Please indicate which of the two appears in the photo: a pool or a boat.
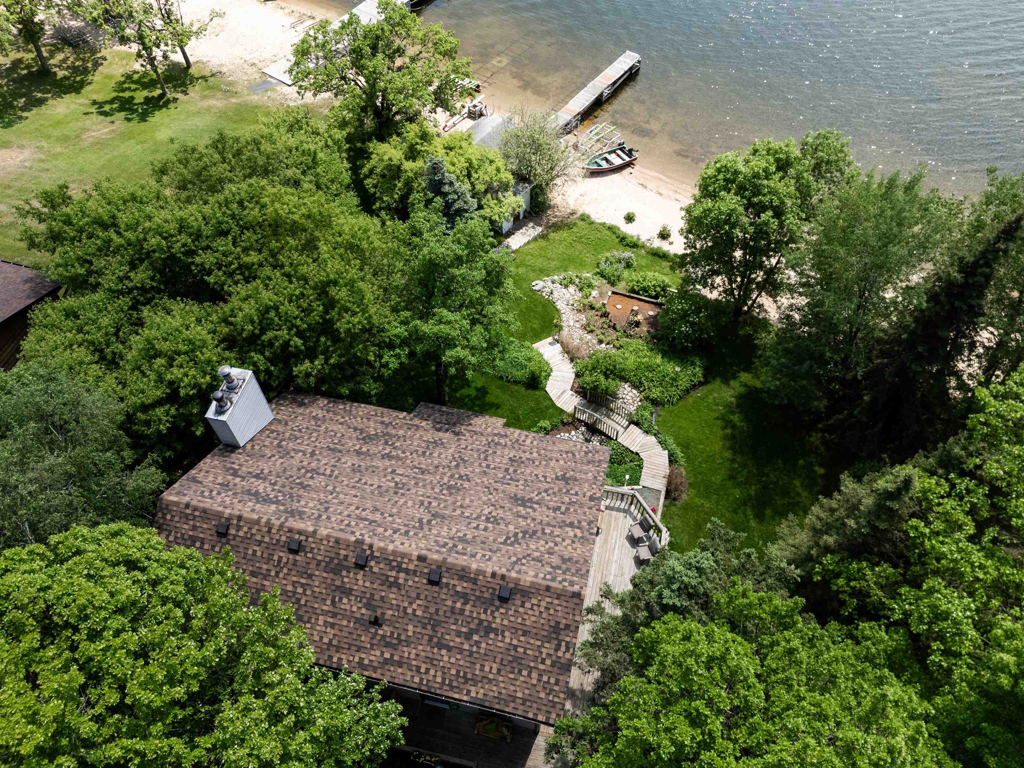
boat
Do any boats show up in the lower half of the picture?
No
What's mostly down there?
trees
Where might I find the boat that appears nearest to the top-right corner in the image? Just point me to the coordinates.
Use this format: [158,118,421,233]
[586,144,641,170]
